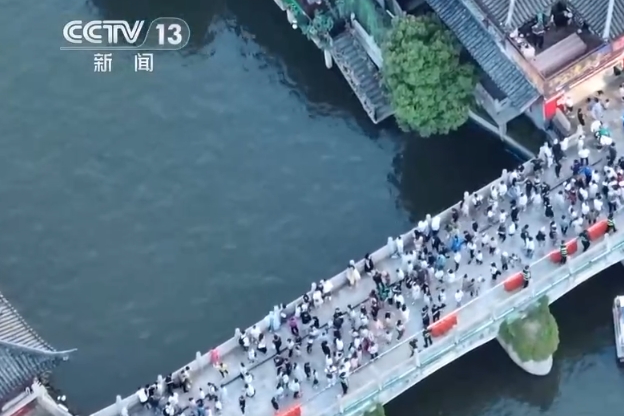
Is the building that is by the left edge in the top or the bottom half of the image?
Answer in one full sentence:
Seen from above, the building that is by the left edge lies in the bottom half of the view.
